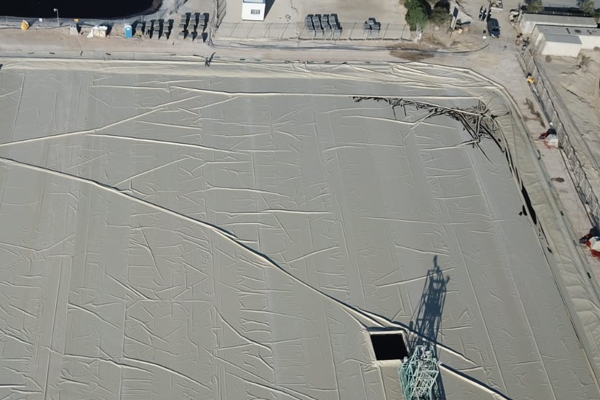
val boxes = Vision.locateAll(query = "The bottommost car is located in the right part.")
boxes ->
[486,16,504,36]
